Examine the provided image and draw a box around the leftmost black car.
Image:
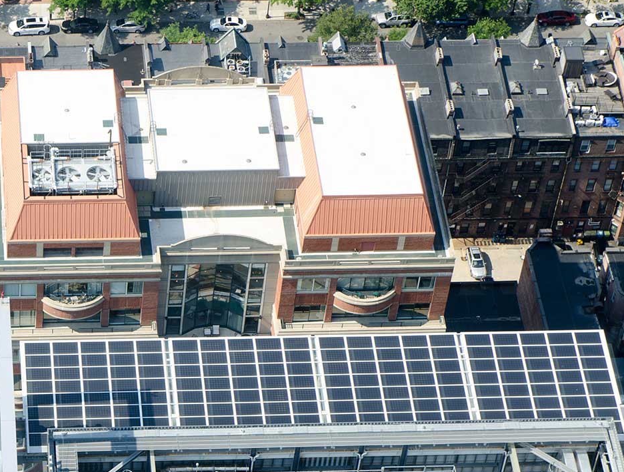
[60,18,97,34]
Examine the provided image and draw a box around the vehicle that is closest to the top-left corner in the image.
[8,16,48,36]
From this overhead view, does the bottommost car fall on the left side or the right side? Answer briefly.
right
